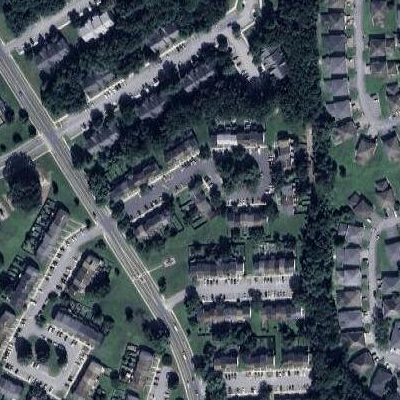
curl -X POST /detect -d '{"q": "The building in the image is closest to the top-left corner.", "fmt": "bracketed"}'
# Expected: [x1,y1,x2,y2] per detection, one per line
[33,38,70,69]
